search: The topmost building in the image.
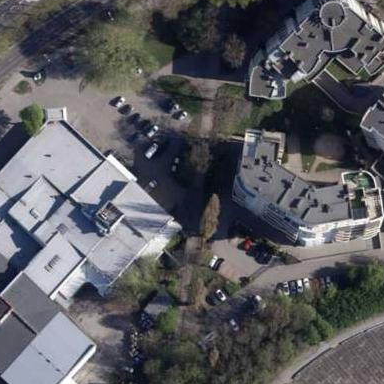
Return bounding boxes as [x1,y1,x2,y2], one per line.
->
[250,0,384,105]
